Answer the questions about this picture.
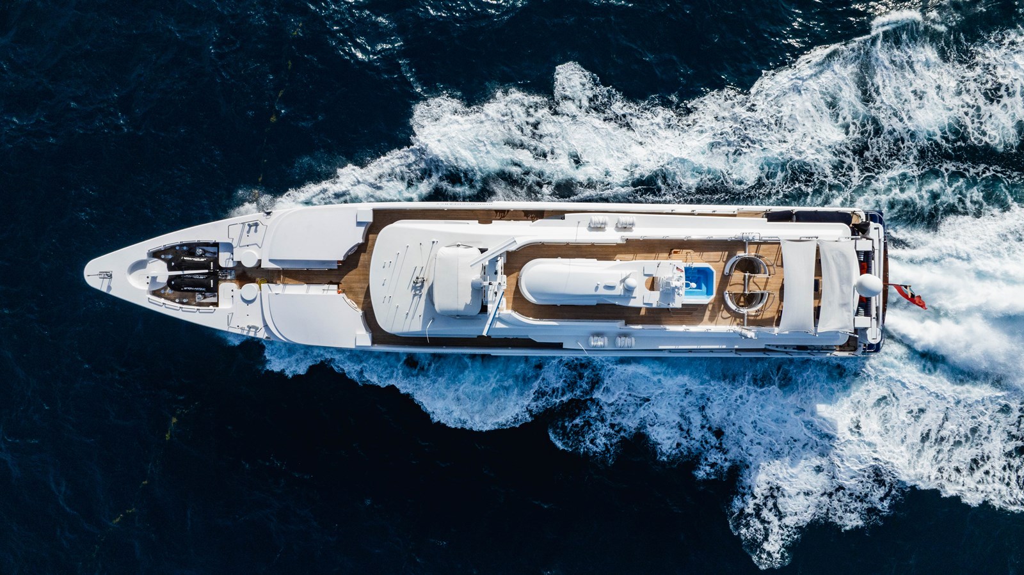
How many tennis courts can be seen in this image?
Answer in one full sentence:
There are no tennis courts in the image.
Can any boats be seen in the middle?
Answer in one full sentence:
Yes, I can see a boat in the middle.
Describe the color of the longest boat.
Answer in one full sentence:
The longest boat is white.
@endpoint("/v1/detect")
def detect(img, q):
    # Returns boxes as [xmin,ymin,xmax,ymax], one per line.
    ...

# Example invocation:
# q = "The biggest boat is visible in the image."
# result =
[84,201,912,358]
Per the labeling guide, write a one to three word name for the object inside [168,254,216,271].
boat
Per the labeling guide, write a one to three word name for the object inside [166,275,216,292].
boat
